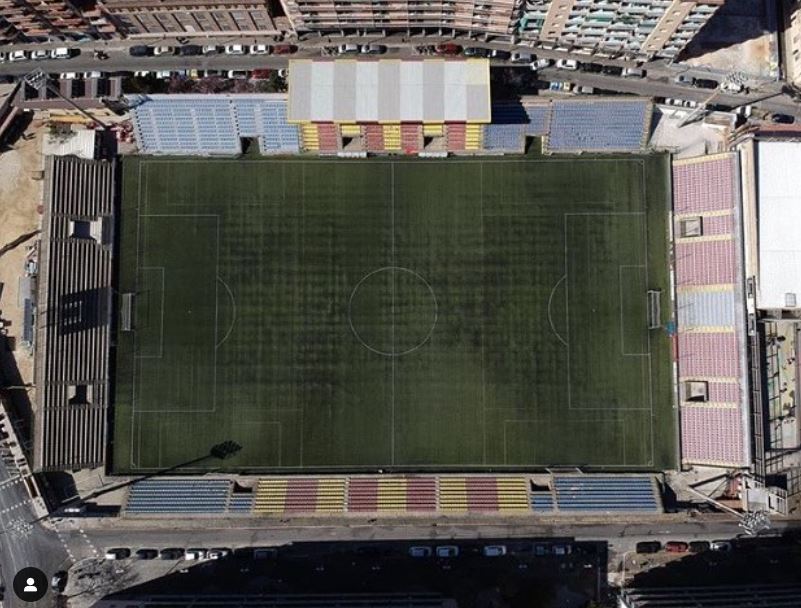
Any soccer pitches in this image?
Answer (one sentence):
Yes, the picture does show a soccer pitch.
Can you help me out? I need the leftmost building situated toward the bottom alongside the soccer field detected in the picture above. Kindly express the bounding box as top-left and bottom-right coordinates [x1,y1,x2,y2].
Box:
[0,347,63,524]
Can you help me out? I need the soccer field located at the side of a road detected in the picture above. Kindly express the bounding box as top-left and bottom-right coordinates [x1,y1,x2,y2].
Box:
[107,133,681,474]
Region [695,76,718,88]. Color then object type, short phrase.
black vehicle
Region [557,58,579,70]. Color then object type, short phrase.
white vehicle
